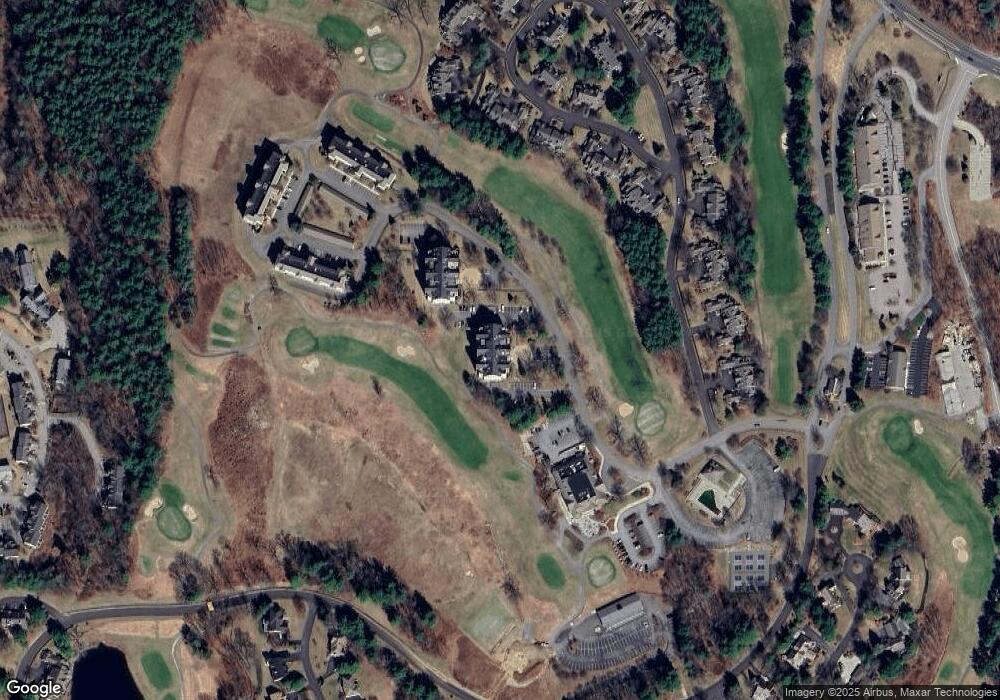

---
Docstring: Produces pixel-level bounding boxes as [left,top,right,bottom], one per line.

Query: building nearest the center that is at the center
[476,323,509,383]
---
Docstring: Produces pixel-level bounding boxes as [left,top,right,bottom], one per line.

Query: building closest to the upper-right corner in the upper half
[863,103,885,126]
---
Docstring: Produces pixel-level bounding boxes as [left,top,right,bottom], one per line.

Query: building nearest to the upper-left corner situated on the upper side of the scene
[21,263,37,291]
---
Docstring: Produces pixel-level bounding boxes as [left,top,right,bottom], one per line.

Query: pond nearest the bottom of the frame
[72,643,143,700]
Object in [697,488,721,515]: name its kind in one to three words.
swimming pool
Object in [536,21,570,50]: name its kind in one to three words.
house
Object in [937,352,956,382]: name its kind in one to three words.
building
